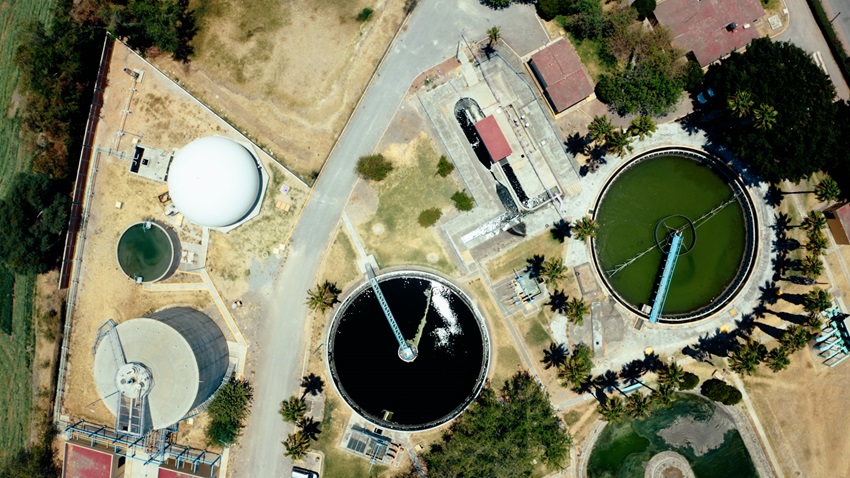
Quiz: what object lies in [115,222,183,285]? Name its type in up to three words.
storage tank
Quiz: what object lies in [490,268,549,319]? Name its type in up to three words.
building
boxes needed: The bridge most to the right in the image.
[649,232,686,324]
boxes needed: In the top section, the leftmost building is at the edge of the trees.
[521,38,597,120]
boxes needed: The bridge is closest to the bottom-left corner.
[363,261,411,354]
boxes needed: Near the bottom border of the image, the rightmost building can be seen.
[340,412,409,472]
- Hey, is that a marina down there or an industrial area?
industrial area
